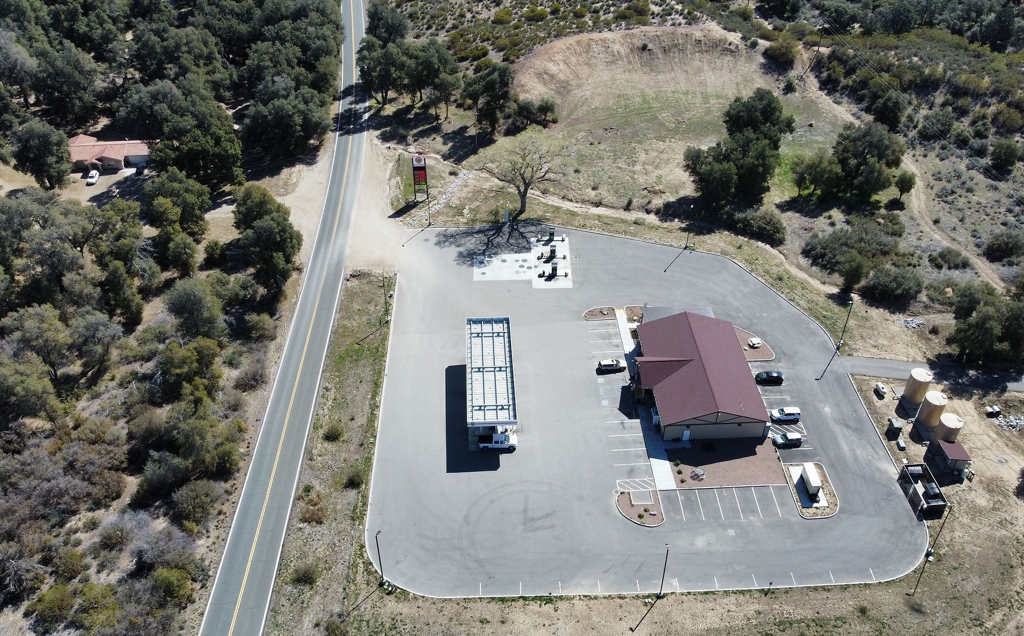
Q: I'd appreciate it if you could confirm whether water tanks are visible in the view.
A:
Yes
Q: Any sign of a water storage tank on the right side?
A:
Yes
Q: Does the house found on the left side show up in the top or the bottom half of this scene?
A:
top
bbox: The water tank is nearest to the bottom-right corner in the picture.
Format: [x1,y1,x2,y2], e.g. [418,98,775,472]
[925,417,960,455]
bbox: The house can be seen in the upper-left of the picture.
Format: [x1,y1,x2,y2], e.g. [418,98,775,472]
[61,127,171,180]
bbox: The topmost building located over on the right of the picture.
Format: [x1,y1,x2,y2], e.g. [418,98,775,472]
[632,307,770,441]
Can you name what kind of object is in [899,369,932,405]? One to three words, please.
water tank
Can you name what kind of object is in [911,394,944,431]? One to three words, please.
water tank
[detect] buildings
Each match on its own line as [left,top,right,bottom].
[632,307,770,441]
[937,444,970,473]
[61,127,171,180]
